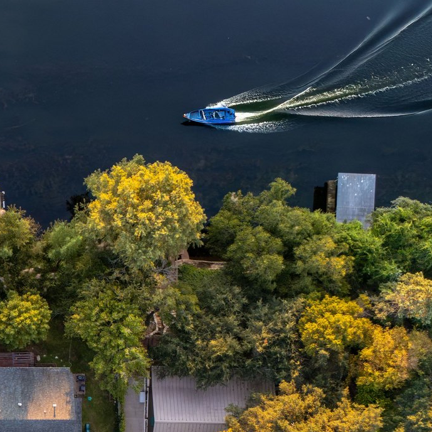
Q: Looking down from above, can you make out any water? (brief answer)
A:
Yes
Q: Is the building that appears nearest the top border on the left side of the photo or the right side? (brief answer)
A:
right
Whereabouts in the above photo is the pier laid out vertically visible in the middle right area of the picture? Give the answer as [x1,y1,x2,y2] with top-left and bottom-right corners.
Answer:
[324,179,338,227]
